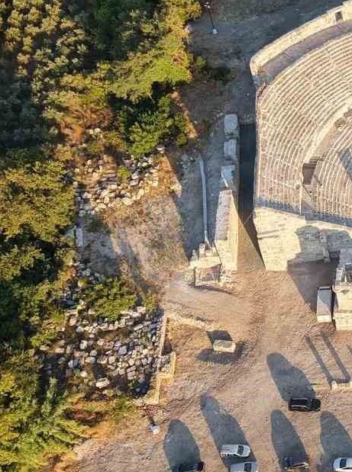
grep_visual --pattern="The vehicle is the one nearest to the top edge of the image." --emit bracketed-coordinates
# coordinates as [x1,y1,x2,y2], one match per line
[288,396,321,412]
